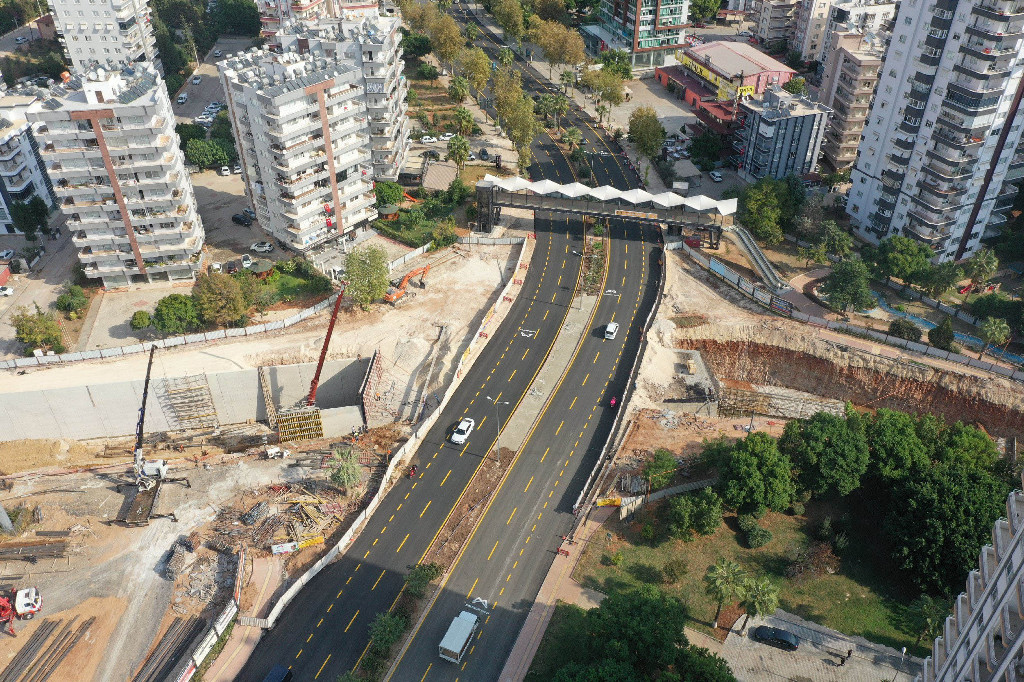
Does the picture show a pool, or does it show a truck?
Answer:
truck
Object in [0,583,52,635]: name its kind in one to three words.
truck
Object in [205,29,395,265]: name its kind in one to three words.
building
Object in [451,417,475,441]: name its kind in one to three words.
car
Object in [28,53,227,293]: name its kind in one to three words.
building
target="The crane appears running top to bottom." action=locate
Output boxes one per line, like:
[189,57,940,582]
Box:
[308,278,373,411]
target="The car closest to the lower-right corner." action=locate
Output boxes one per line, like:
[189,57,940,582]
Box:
[756,623,802,651]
